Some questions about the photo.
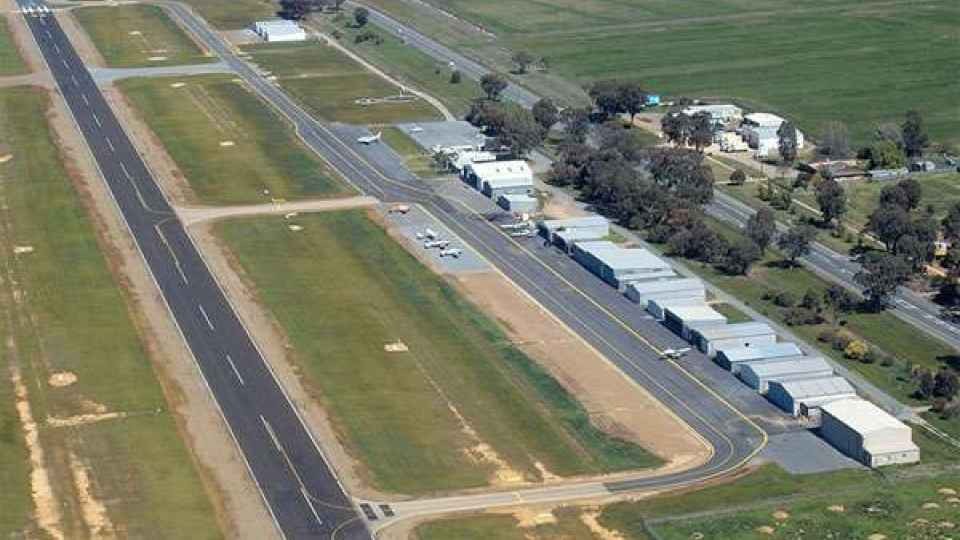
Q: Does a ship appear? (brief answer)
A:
No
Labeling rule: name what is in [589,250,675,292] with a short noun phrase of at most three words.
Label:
hangar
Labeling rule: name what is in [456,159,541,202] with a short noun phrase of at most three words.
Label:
hangar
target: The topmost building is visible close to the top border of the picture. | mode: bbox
[250,17,310,45]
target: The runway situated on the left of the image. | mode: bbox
[8,16,373,540]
